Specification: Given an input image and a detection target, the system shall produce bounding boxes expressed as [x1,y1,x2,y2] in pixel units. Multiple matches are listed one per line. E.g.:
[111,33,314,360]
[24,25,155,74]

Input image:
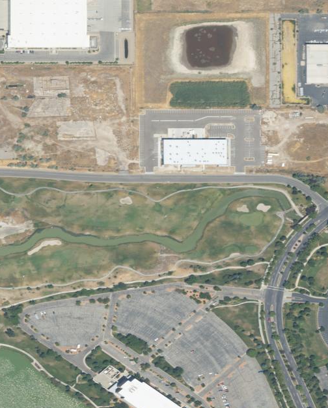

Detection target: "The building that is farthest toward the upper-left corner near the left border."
[7,0,90,48]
